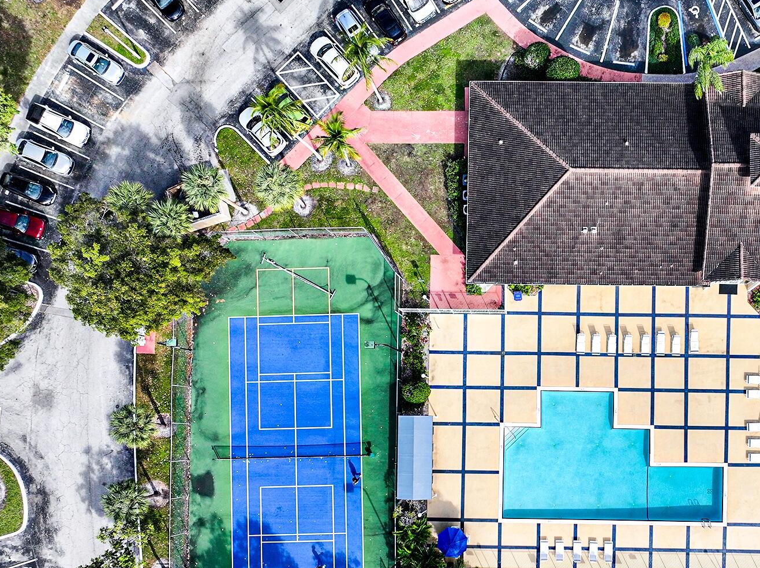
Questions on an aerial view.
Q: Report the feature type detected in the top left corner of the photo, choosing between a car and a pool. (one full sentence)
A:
The one visible in the top left corner of the photo is a car.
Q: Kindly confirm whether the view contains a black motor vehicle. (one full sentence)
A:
Yes, the photo shows a black motor vehicle.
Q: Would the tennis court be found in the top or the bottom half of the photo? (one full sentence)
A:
The tennis court is in the bottom half of the image.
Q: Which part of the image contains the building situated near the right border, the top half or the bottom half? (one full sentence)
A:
You can find the building situated near the right border in the top half.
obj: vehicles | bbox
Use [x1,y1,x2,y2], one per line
[312,35,361,93]
[0,169,60,210]
[149,0,186,21]
[363,0,409,51]
[17,138,78,178]
[24,102,94,150]
[0,207,52,243]
[240,105,289,159]
[403,0,436,27]
[68,41,127,88]
[332,8,377,58]
[268,84,313,138]
[733,0,760,38]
